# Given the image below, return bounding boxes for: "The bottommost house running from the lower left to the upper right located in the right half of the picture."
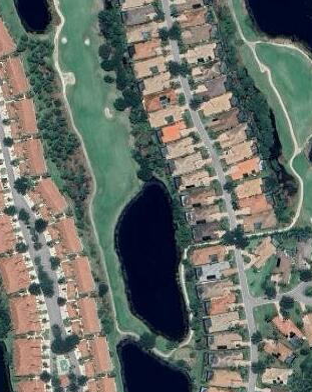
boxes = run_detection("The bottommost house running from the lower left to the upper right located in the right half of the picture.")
[245,236,281,272]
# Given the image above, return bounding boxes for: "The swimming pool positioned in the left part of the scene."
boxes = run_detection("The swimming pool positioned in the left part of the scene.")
[57,355,70,374]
